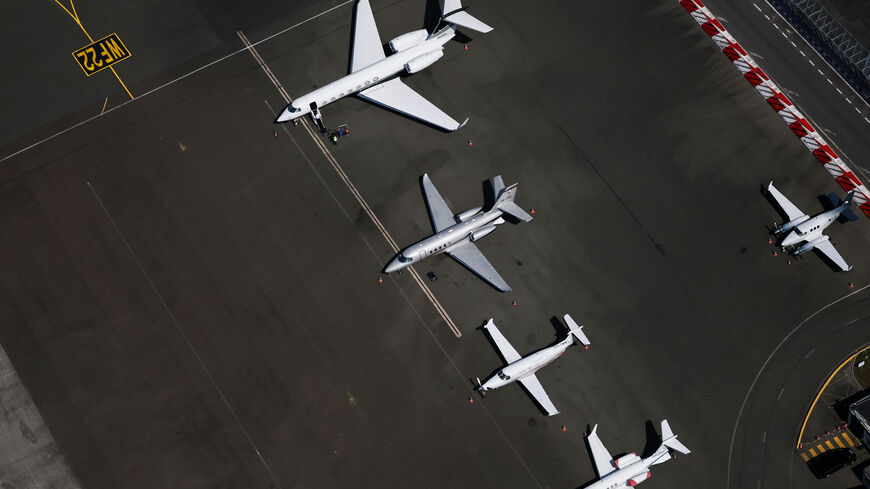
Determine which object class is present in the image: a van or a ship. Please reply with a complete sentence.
This aerial view contains a van.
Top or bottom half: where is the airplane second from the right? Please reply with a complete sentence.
The airplane second from the right sits in the bottom half of the picture.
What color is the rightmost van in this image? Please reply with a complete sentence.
The rightmost van looks black in the image.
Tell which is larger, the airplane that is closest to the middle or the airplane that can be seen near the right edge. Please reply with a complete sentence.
The airplane that can be seen near the right edge is smaller than the airplane that is closest to the middle.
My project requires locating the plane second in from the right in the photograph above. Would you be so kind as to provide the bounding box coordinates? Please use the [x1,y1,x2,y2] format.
[583,419,691,489]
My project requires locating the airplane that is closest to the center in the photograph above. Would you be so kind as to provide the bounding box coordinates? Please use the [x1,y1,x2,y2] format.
[386,174,534,292]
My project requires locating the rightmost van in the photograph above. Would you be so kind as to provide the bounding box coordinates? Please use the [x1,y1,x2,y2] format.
[809,447,856,481]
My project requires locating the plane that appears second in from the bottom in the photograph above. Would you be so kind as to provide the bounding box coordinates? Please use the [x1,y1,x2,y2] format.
[476,314,590,414]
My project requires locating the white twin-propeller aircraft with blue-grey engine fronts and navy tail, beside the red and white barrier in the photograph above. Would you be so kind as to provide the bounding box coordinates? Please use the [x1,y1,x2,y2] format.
[768,182,858,271]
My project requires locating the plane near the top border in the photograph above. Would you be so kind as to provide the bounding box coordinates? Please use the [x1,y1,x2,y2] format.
[278,0,494,134]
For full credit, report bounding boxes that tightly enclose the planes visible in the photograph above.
[278,0,494,134]
[768,182,858,271]
[386,174,534,292]
[583,419,691,489]
[476,314,590,414]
